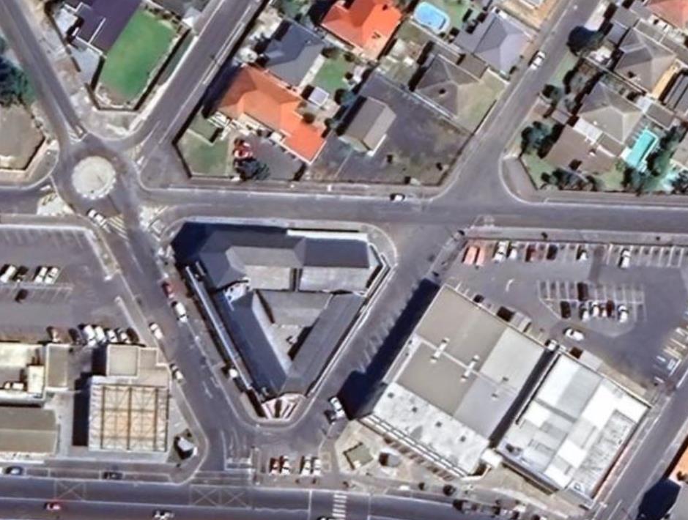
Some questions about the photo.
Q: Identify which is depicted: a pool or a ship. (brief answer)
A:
pool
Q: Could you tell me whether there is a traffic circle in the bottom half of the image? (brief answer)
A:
No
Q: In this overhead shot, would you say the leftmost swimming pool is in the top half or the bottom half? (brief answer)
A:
top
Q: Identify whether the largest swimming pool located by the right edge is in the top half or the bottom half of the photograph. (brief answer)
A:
top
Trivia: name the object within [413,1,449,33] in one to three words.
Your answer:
swimming pool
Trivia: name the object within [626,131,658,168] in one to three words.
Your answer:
swimming pool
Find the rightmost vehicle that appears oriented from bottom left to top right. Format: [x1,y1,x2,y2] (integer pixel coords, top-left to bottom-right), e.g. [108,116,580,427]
[530,49,548,72]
